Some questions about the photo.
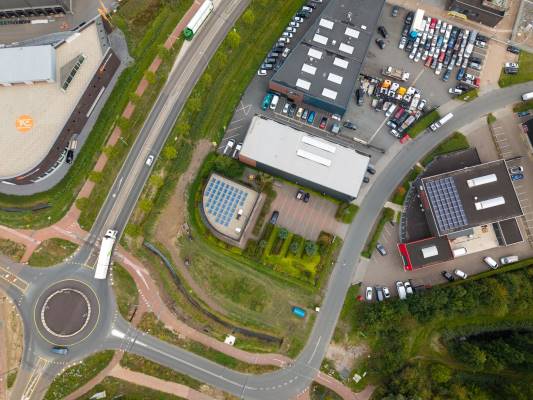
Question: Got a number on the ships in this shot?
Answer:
zero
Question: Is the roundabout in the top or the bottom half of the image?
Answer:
bottom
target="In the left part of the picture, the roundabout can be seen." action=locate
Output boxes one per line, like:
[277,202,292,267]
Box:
[23,269,110,358]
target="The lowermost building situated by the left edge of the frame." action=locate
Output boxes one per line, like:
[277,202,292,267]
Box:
[0,15,120,189]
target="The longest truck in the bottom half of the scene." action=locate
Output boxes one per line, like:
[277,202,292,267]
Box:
[98,227,122,280]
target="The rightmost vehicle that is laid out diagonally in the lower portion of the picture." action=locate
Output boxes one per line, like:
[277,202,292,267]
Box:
[483,254,499,270]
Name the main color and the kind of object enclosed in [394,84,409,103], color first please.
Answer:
yellow vehicle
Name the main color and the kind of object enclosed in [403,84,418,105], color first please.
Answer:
white vehicle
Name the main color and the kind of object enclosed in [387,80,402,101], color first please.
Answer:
white vehicle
